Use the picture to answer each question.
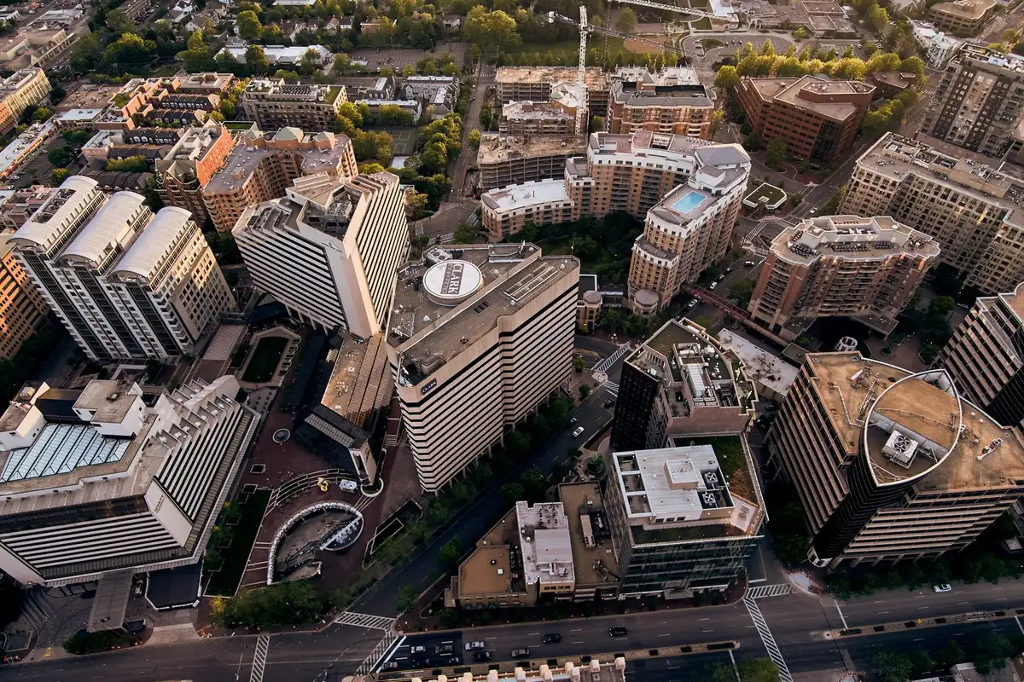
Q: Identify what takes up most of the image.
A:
buildings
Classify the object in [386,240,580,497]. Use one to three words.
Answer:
building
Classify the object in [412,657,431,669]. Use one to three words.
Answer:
vehicle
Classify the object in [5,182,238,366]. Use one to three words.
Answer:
building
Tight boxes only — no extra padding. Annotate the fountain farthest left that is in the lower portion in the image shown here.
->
[270,426,293,445]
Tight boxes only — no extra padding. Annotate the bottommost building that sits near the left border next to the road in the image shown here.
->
[0,378,261,633]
